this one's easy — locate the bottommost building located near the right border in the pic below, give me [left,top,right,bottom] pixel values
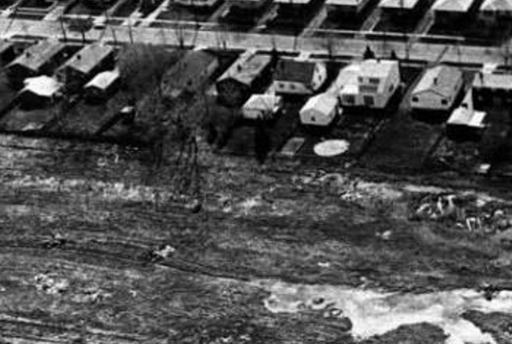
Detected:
[448,109,491,136]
